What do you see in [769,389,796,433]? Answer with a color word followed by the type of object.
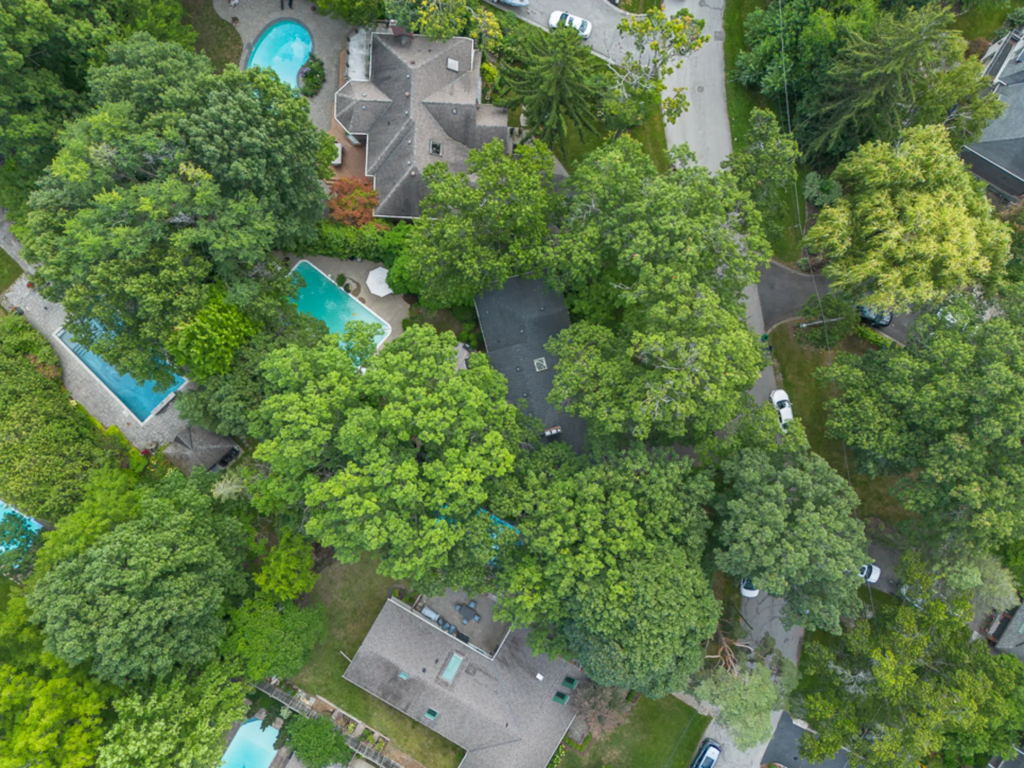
white car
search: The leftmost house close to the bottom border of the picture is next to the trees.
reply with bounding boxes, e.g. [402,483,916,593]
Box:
[341,589,586,768]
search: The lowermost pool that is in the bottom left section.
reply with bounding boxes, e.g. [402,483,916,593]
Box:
[215,714,280,768]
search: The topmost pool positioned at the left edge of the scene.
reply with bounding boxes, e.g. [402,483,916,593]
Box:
[51,315,187,427]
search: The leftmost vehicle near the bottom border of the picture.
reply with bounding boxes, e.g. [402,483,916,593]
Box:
[684,735,721,768]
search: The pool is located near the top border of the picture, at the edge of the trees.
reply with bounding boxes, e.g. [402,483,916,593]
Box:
[241,15,316,87]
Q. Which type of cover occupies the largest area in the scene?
trees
